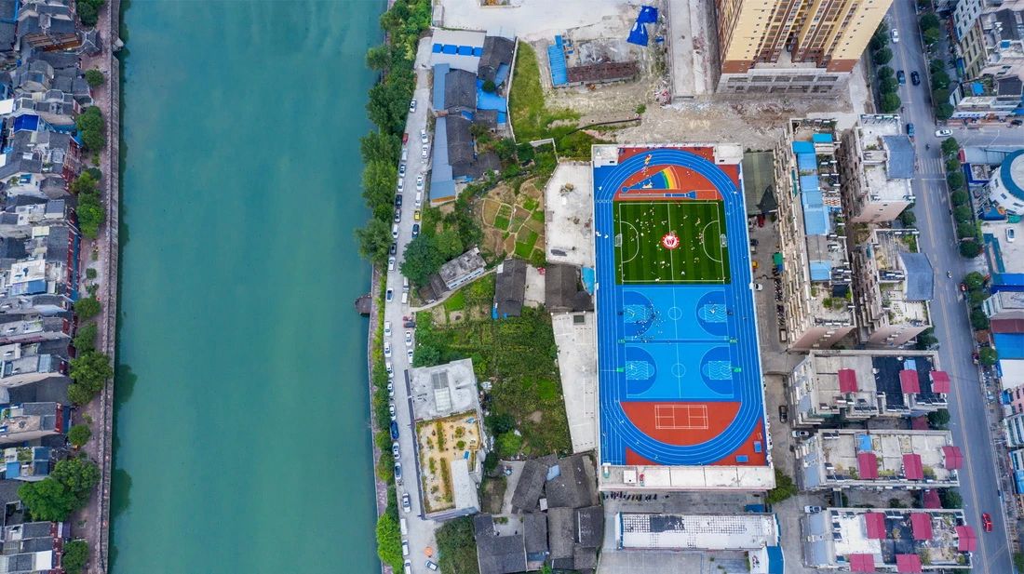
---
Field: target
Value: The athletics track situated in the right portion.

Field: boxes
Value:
[593,150,765,464]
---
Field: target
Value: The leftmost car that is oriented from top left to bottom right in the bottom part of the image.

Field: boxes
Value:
[422,558,440,573]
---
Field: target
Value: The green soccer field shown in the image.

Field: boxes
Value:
[612,201,731,284]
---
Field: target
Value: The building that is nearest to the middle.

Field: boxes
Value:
[495,258,527,321]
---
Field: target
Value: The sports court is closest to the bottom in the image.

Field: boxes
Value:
[655,405,708,429]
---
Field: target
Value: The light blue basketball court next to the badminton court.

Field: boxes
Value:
[625,343,734,398]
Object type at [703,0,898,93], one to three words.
building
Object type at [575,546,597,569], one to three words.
house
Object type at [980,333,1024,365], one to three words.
shed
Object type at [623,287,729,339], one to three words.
basketball court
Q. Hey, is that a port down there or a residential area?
residential area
